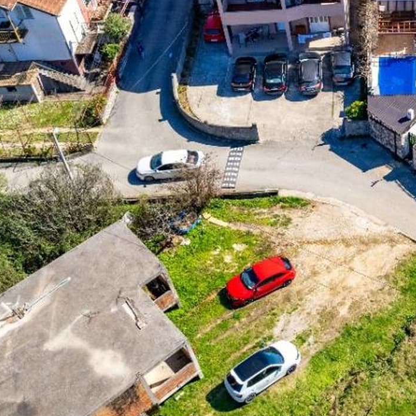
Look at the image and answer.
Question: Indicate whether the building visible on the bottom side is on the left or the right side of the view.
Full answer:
The building visible on the bottom side appears in the left half of the scene.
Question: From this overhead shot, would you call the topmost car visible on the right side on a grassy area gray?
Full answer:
No, the color of the topmost car visible on the right side on a grassy area is red.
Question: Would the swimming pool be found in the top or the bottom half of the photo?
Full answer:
Seen from above, the swimming pool lies in the top half of the view.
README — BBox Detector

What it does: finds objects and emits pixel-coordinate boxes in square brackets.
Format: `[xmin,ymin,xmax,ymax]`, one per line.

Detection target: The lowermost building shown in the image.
[0,221,199,416]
